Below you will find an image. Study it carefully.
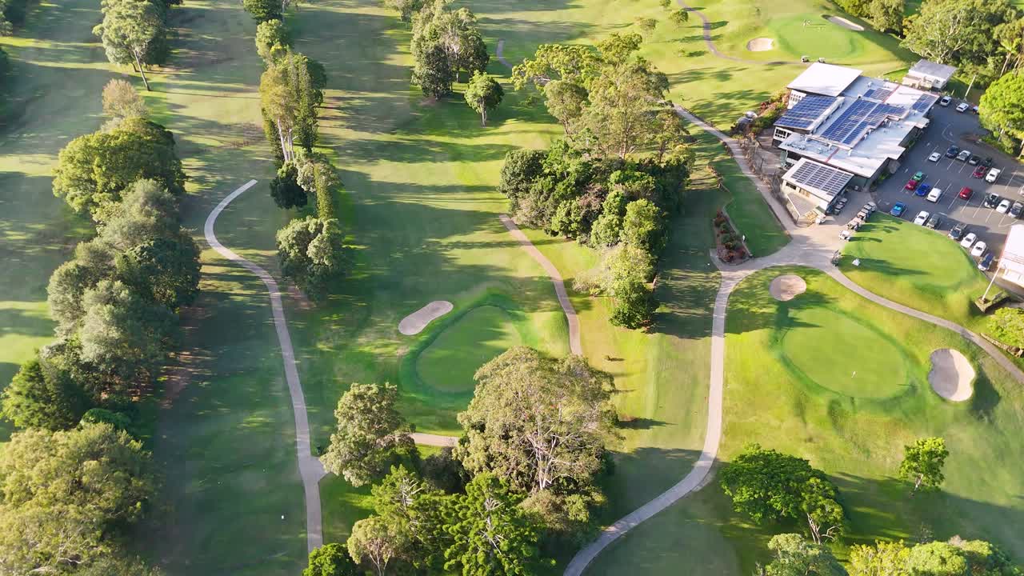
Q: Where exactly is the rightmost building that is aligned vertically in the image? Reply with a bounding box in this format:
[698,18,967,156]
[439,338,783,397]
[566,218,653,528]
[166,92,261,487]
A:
[991,225,1024,293]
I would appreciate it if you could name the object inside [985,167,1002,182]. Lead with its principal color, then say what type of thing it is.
white car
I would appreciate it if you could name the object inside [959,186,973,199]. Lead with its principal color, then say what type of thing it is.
red vehicle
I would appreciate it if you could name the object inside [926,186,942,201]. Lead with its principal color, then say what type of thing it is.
white car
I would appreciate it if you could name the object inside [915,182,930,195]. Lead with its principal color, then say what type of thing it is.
blue vehicle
